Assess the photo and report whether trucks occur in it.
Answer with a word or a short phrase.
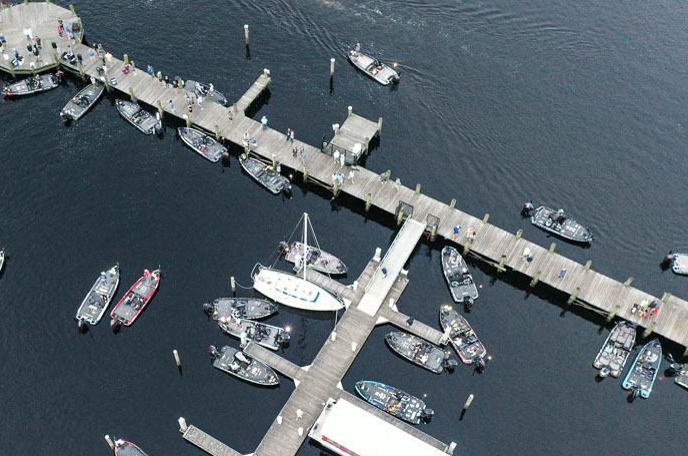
No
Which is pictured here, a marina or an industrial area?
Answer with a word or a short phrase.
marina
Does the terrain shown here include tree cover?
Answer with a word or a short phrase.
No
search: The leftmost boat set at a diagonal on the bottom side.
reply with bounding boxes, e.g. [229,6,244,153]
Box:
[76,264,121,329]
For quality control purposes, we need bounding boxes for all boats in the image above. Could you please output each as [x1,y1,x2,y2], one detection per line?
[76,264,121,329]
[671,363,688,388]
[1,75,61,98]
[176,126,229,164]
[62,83,106,121]
[113,99,160,136]
[348,55,400,89]
[202,299,277,320]
[354,382,436,426]
[442,243,481,306]
[179,77,228,106]
[624,336,661,399]
[666,254,688,276]
[238,155,292,196]
[529,204,593,244]
[385,335,454,374]
[211,344,280,388]
[441,303,490,365]
[595,321,632,377]
[252,213,345,312]
[218,319,292,349]
[110,269,161,328]
[112,442,144,456]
